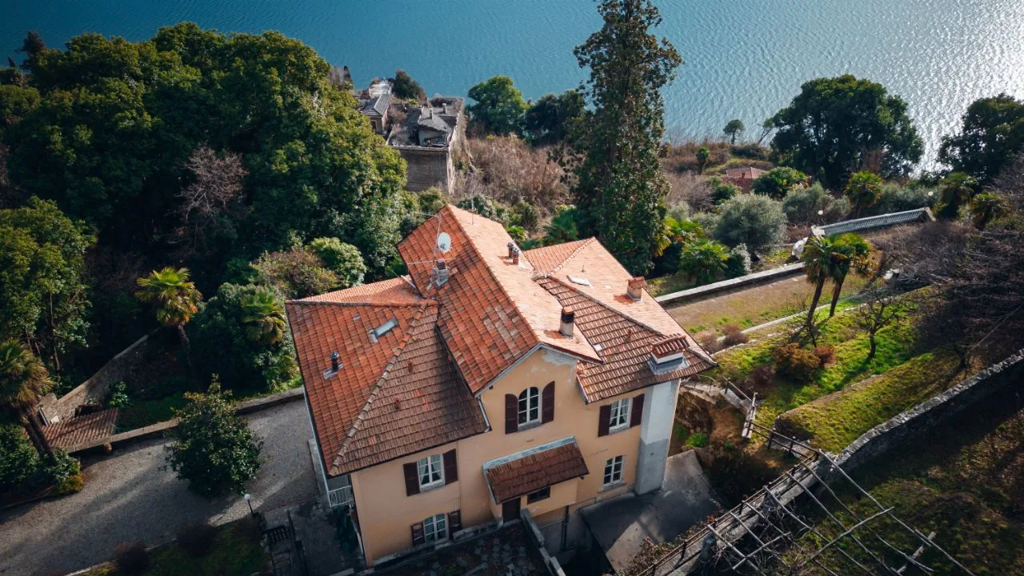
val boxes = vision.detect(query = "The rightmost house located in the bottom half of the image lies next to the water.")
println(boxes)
[284,194,720,566]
